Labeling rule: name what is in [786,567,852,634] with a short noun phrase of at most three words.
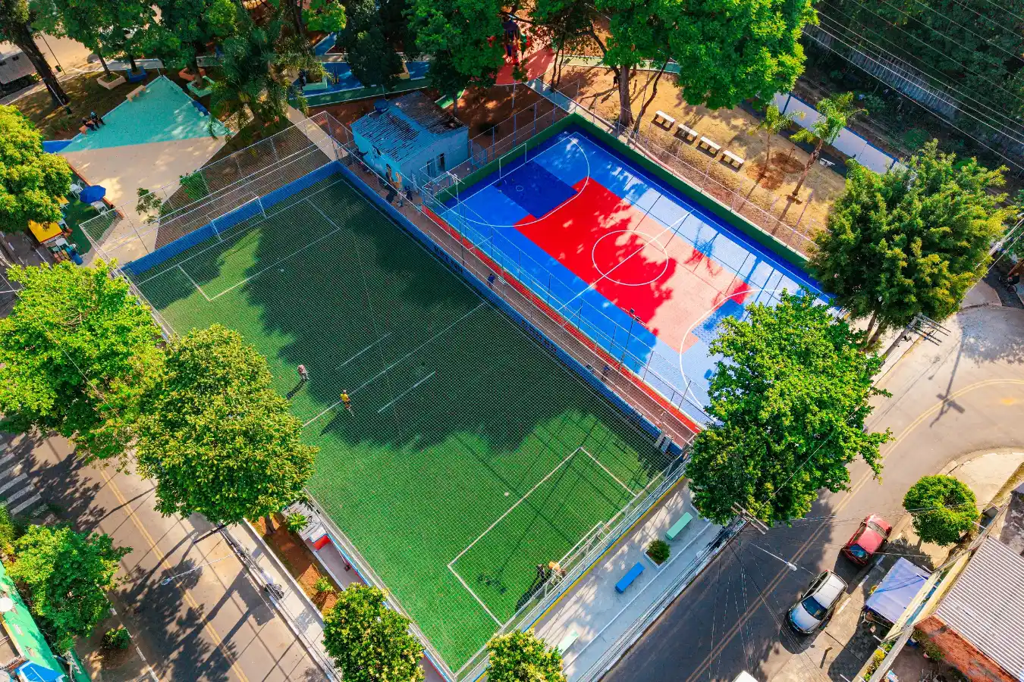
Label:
car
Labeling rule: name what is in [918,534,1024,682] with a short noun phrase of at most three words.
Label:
house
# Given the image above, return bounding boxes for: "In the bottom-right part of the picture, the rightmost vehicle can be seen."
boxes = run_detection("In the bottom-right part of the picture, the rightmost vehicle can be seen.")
[840,512,894,571]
